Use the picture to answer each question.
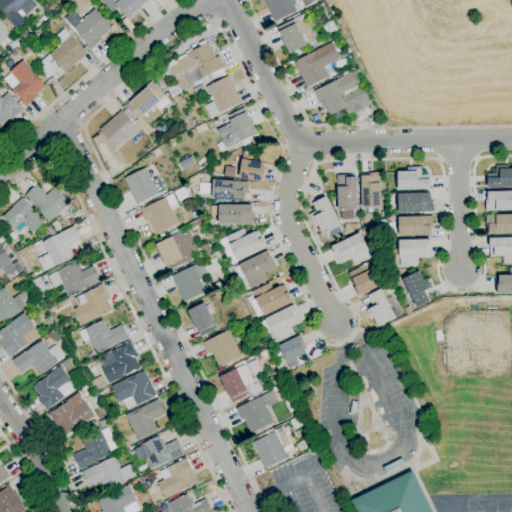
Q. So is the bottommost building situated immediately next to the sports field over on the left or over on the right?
right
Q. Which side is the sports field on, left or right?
right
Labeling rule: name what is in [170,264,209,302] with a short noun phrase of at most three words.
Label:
house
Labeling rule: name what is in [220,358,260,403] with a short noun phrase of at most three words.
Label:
house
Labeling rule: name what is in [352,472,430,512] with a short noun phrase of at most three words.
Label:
building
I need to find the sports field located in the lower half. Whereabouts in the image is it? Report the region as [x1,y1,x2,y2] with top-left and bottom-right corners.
[392,298,512,496]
